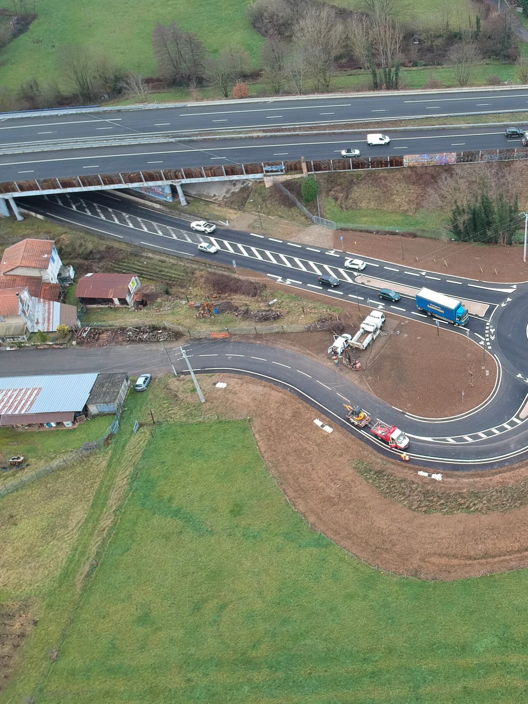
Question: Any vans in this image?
Yes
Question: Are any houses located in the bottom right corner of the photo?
No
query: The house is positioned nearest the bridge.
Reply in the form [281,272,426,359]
[7,235,66,287]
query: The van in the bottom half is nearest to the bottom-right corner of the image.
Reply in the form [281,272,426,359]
[371,418,411,450]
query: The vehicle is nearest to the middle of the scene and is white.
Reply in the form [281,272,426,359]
[326,334,351,355]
